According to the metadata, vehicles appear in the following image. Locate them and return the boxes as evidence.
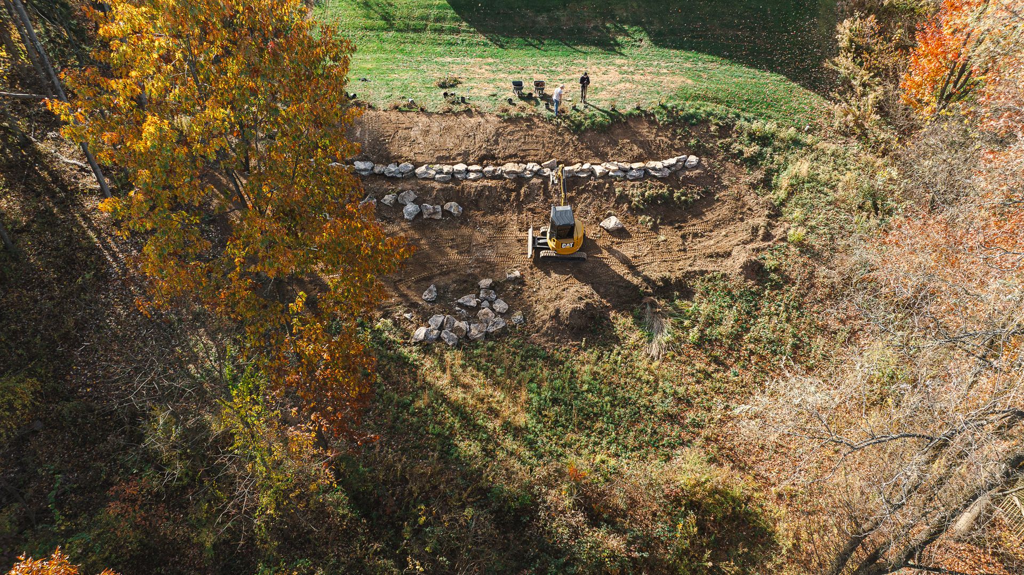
[526,156,588,260]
